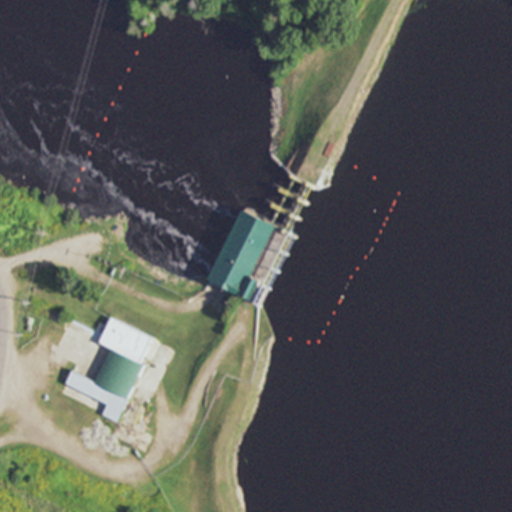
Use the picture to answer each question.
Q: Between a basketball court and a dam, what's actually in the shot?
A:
dam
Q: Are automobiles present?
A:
No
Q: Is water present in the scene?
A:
Yes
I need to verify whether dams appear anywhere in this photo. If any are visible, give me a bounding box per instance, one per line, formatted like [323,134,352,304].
[250,178,312,308]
